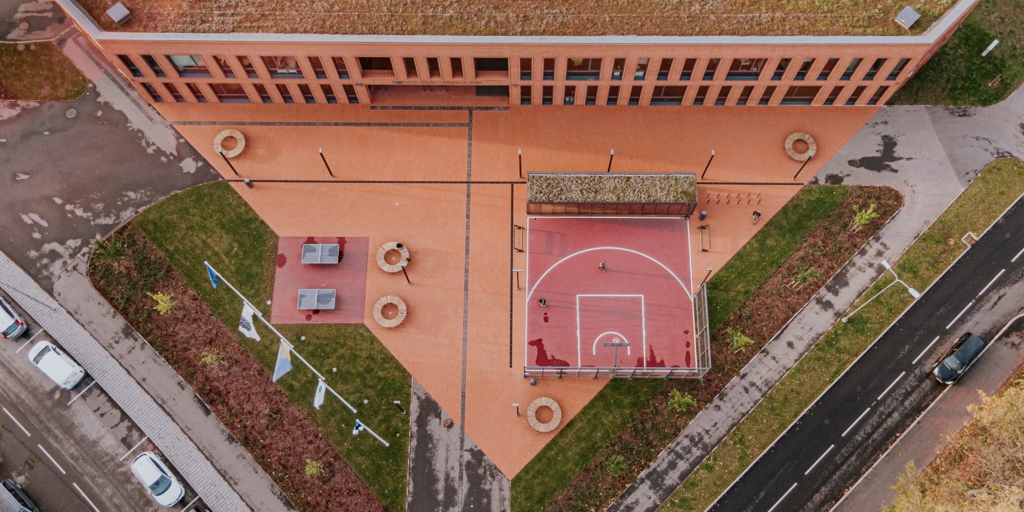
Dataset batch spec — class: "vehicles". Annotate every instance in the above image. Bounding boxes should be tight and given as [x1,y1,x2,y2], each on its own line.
[930,329,987,384]
[35,343,88,392]
[0,292,25,337]
[133,452,186,506]
[0,478,47,512]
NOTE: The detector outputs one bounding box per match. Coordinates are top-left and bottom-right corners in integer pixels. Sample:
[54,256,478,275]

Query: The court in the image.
[525,216,700,377]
